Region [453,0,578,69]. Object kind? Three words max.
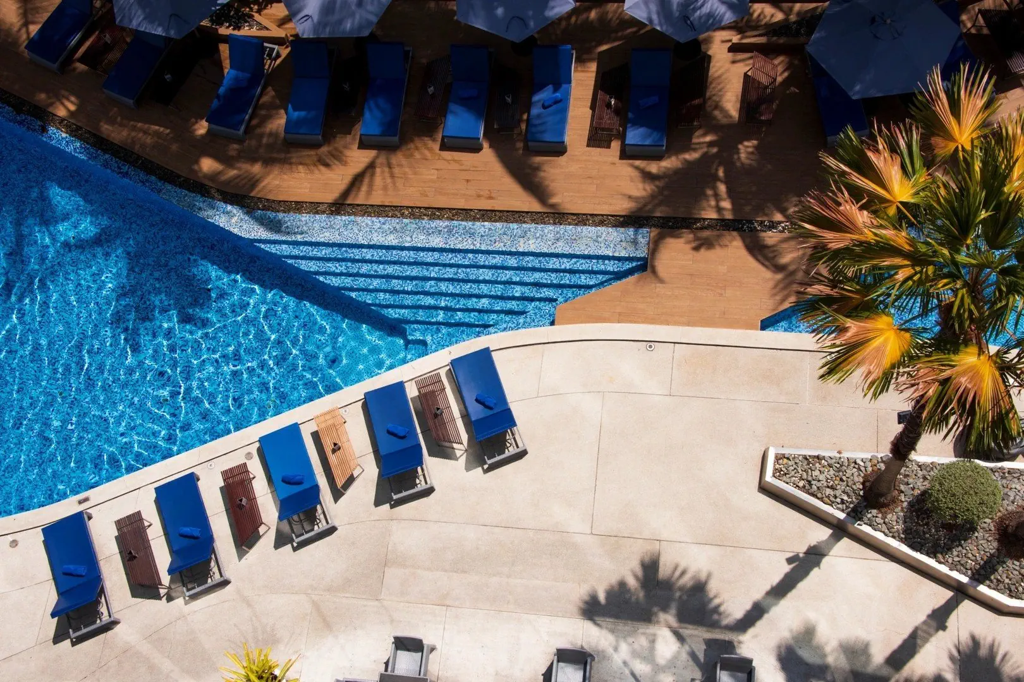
umbrella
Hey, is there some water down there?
Yes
